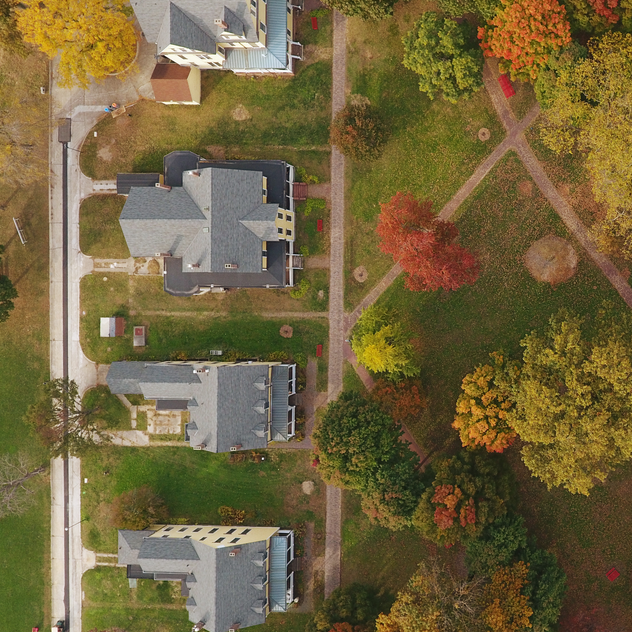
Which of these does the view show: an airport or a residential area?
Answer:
residential area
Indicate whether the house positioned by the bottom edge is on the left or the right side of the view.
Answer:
left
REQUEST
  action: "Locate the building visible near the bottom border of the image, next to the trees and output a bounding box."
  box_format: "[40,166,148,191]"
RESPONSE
[118,525,301,632]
